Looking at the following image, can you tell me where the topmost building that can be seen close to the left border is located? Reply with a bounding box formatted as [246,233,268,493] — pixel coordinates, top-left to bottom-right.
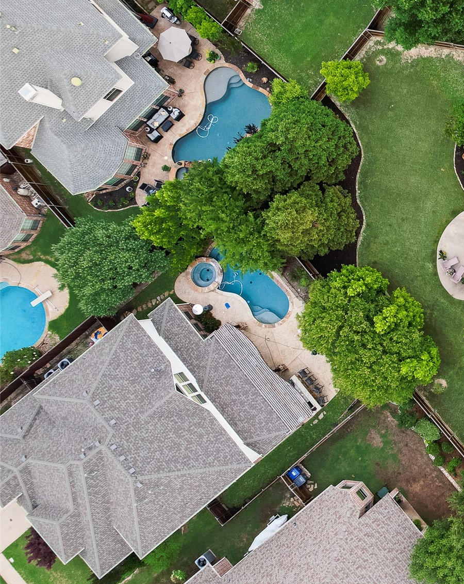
[0,0,177,195]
